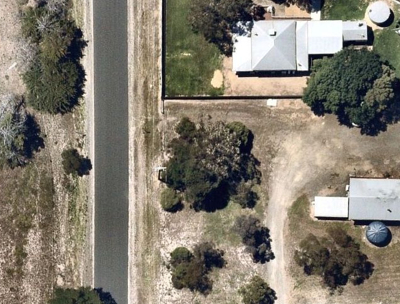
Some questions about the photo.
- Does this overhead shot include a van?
No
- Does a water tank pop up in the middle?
No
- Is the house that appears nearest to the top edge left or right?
right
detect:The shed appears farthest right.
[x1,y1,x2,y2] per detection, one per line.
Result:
[348,177,400,222]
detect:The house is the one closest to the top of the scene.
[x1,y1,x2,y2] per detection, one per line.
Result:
[232,20,367,73]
